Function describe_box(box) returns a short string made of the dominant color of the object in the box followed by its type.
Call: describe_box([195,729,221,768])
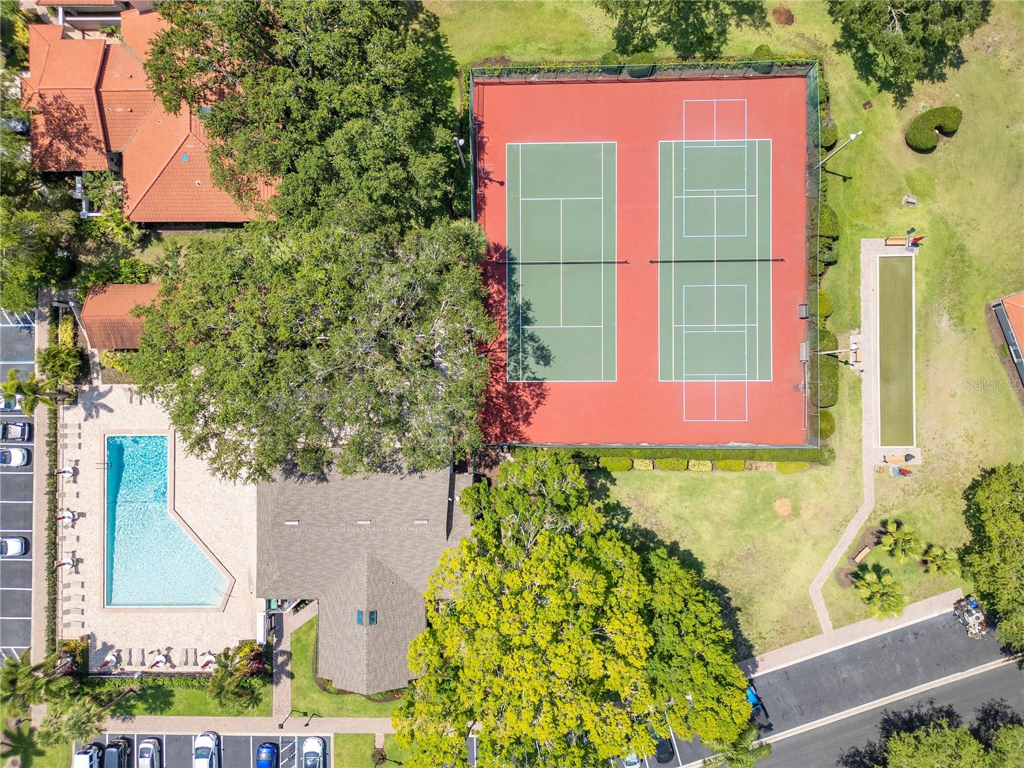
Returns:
white car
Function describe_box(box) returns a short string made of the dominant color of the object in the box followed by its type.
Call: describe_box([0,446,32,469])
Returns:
white car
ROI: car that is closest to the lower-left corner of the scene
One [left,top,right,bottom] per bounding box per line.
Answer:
[74,741,103,768]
